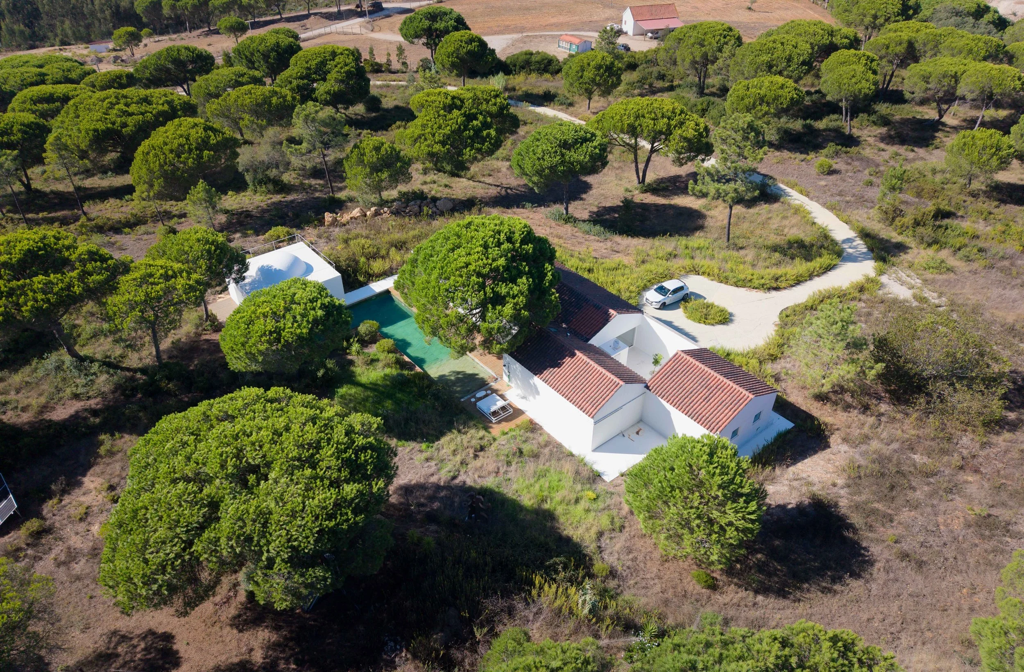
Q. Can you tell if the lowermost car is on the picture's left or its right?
right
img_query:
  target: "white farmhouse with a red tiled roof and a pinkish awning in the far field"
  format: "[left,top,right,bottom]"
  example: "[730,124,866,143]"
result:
[616,1,679,36]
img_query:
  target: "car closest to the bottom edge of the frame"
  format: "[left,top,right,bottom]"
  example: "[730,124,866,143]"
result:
[644,278,692,308]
